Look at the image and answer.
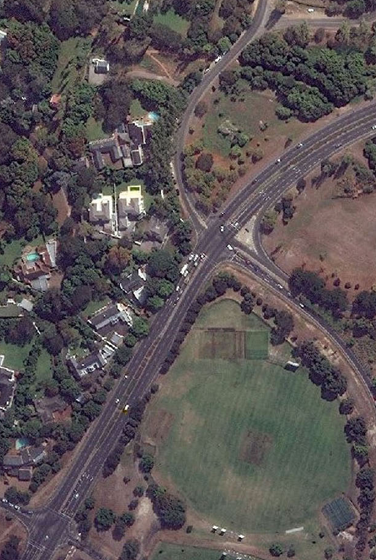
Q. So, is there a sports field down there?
Yes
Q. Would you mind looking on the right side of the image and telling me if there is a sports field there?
Yes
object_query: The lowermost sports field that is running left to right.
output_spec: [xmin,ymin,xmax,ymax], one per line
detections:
[150,545,255,560]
